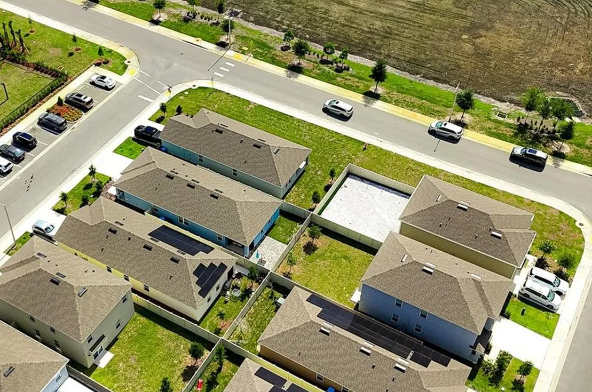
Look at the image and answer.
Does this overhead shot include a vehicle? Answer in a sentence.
Yes, the image includes a vehicle.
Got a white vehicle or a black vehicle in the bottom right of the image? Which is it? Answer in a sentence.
Visible in the bottom right of the image is a white vehicle.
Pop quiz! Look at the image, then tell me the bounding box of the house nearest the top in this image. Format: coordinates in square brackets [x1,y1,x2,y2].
[159,108,315,199]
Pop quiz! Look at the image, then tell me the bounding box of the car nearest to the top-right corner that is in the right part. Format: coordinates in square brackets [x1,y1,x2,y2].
[510,151,549,173]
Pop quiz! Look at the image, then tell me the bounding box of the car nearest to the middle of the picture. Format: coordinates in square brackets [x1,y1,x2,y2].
[322,104,354,124]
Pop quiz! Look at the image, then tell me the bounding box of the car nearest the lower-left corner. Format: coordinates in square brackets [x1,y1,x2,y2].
[27,217,60,240]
